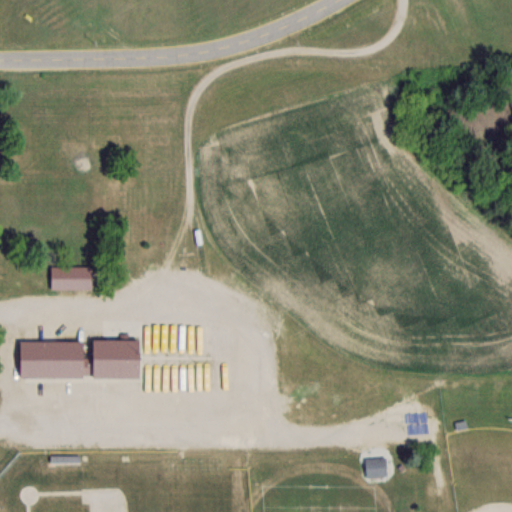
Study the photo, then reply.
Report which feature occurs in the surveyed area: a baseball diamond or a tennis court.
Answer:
baseball diamond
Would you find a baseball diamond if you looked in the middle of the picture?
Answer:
No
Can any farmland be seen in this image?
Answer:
Yes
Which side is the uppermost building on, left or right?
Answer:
left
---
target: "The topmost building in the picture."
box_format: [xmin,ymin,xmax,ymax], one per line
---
[51,267,92,292]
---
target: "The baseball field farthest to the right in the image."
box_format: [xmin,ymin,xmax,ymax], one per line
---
[446,428,512,512]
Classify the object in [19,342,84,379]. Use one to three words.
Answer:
building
